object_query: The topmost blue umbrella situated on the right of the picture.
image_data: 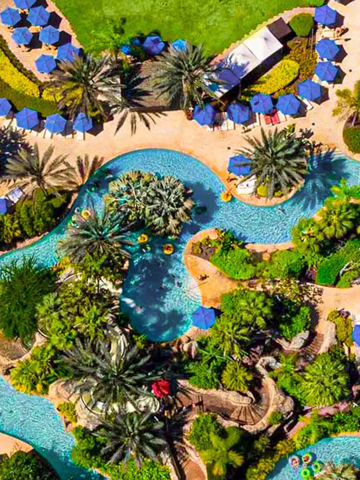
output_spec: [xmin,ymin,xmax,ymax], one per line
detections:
[314,5,335,26]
